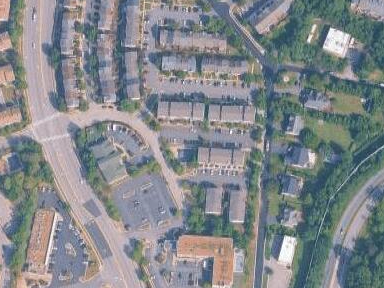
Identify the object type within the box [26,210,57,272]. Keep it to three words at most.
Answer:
building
